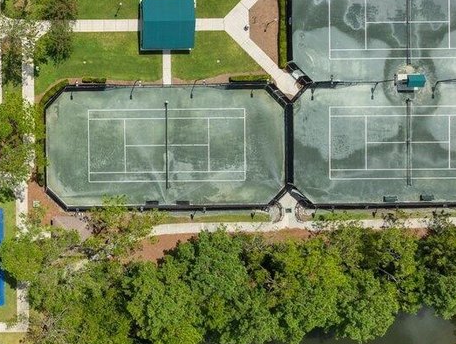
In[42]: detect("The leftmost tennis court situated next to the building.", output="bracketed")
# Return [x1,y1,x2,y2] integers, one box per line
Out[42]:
[44,83,286,206]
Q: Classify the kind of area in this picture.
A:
sports ground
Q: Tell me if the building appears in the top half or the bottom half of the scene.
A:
top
